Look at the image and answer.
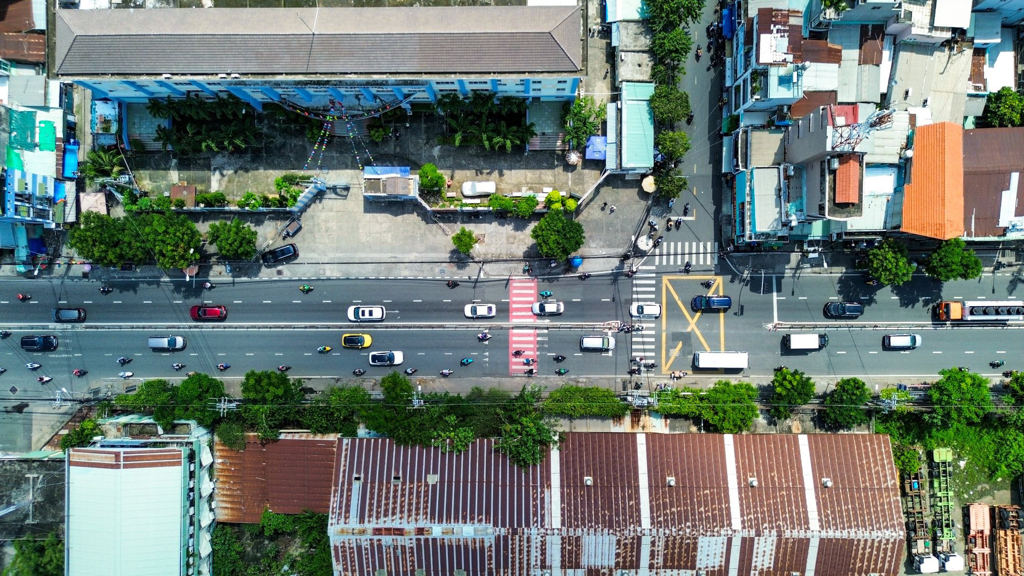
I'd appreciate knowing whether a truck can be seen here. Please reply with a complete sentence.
Yes, a truck is visible in the scene.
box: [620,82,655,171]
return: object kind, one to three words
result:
house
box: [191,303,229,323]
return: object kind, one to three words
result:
car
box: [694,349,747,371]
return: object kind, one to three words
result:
vehicle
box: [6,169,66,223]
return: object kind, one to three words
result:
house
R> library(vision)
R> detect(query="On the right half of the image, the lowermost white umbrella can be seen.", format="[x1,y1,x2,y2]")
[637,235,653,251]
